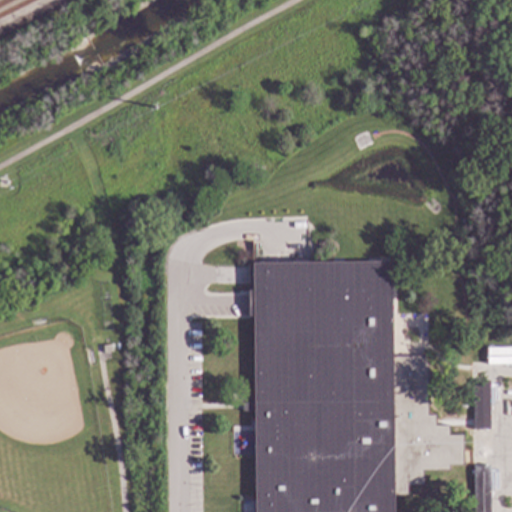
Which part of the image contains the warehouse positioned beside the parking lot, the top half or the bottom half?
bottom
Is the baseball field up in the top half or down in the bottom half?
bottom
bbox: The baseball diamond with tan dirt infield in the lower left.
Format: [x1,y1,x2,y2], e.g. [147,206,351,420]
[0,332,84,444]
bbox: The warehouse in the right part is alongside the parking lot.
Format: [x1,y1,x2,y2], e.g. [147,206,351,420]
[244,262,398,512]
